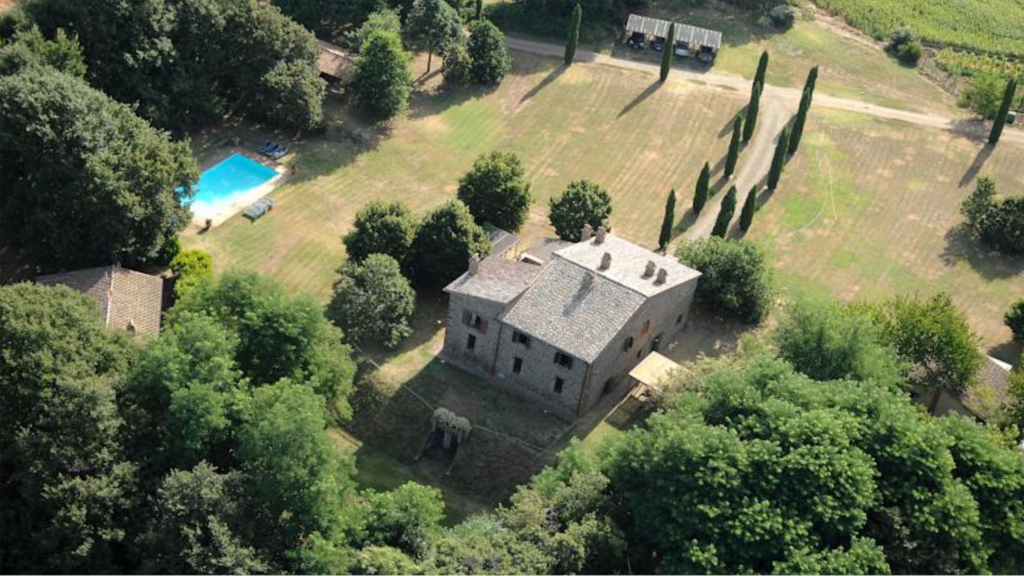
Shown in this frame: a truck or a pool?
pool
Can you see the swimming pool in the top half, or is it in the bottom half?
top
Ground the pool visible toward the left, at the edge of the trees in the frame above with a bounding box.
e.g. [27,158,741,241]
[179,150,285,214]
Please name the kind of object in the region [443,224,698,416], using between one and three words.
house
